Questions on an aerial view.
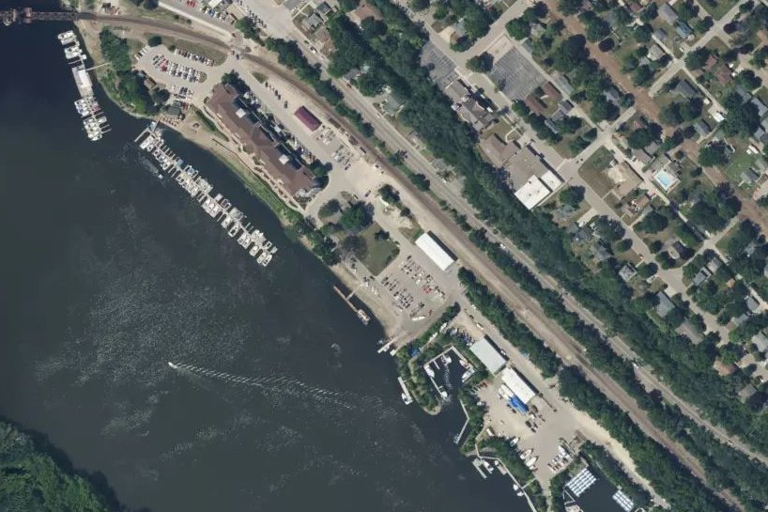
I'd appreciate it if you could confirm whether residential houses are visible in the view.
Yes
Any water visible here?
Yes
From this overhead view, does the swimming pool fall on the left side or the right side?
right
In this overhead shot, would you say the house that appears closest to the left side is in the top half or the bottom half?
top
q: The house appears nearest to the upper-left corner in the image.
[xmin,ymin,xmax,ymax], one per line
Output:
[73,63,94,96]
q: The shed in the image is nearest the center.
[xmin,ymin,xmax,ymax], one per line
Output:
[416,231,454,270]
